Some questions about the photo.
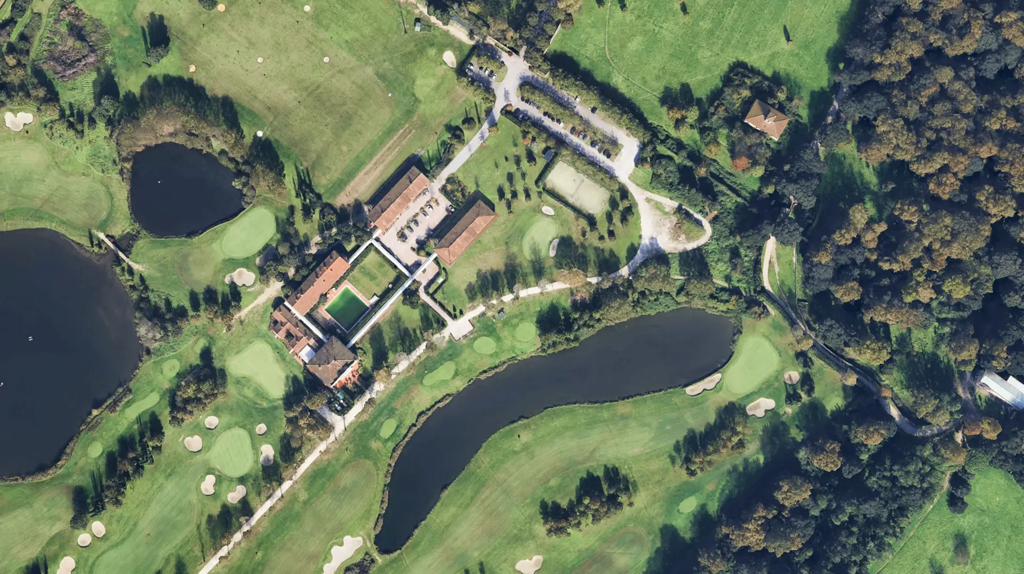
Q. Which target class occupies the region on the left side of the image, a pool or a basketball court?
pool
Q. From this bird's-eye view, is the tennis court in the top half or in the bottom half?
top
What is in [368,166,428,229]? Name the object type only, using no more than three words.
barn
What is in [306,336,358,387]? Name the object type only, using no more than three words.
building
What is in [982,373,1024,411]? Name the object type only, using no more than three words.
shed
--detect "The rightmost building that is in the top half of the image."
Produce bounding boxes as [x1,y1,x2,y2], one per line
[745,99,789,139]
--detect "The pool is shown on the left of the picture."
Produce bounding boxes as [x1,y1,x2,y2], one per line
[319,280,373,334]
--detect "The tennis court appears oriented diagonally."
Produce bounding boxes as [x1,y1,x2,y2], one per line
[545,161,609,214]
